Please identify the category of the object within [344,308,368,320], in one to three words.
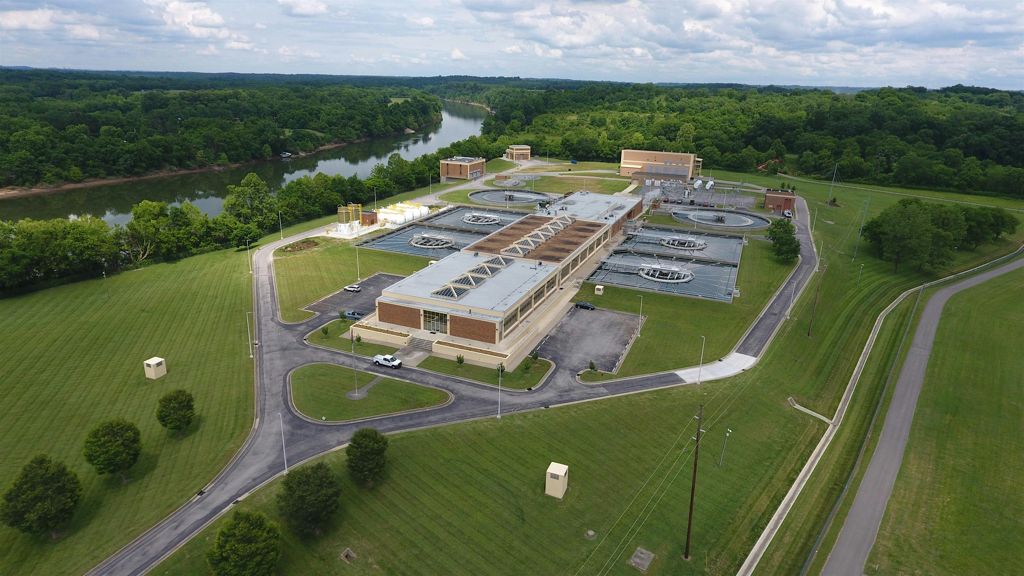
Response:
vehicle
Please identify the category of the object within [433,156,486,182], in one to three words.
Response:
building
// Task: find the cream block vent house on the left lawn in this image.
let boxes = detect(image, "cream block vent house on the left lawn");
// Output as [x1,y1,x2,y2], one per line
[141,354,169,379]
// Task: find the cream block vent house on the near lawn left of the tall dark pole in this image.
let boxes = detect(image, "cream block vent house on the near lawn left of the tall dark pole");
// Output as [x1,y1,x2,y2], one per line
[543,463,568,498]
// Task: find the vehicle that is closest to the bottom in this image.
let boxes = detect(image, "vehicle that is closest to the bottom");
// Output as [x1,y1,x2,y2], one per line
[372,354,405,369]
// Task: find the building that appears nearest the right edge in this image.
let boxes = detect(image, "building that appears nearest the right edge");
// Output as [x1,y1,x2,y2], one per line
[764,188,797,214]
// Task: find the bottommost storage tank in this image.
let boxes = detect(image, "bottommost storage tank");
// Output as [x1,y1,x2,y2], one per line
[586,244,740,304]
